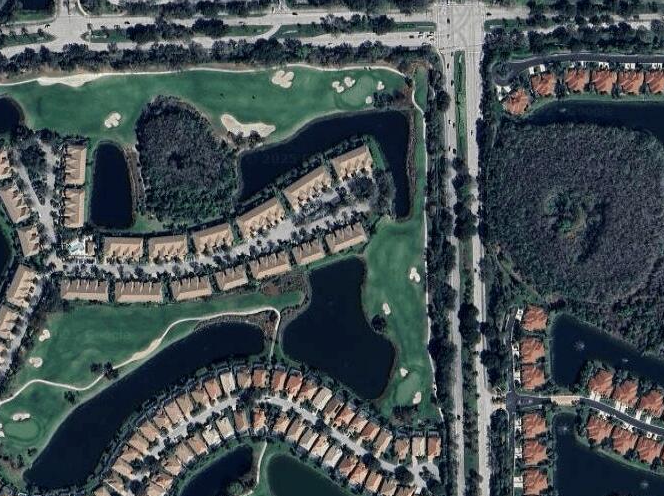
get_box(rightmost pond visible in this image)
[91,142,133,227]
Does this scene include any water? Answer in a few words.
Yes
